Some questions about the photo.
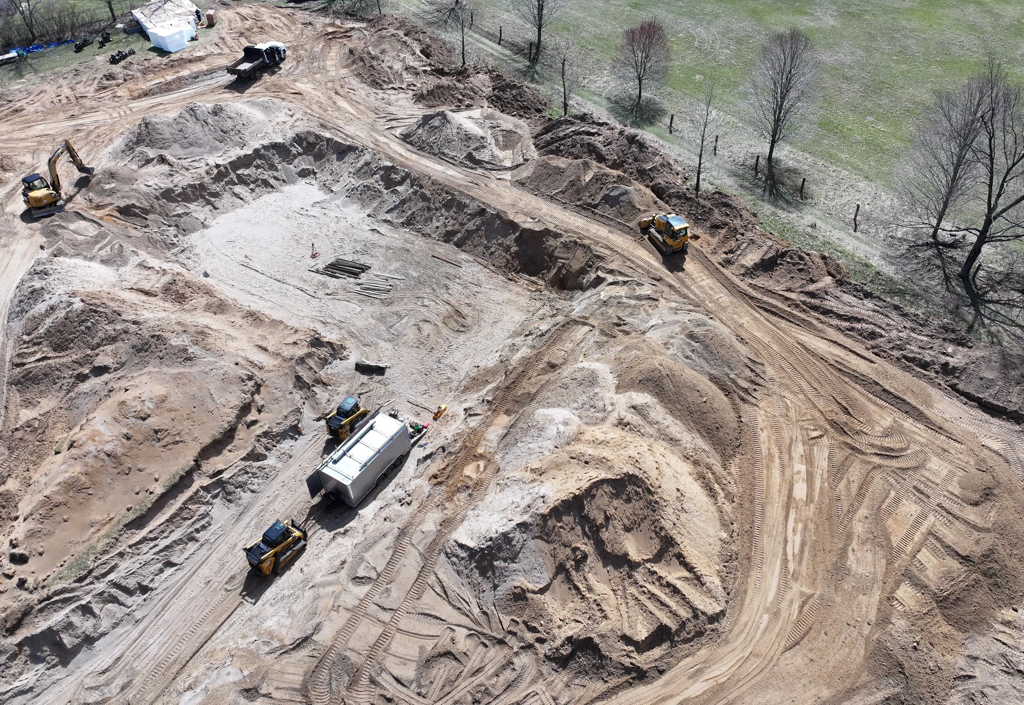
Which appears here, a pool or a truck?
truck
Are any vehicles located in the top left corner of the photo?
Yes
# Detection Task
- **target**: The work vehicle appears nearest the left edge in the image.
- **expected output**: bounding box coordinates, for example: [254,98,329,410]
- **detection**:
[19,137,96,215]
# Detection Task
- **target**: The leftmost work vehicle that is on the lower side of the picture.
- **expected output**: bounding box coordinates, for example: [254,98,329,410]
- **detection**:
[242,520,315,580]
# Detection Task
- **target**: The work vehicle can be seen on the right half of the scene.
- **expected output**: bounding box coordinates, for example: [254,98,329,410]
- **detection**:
[634,207,686,252]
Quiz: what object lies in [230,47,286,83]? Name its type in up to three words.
truck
